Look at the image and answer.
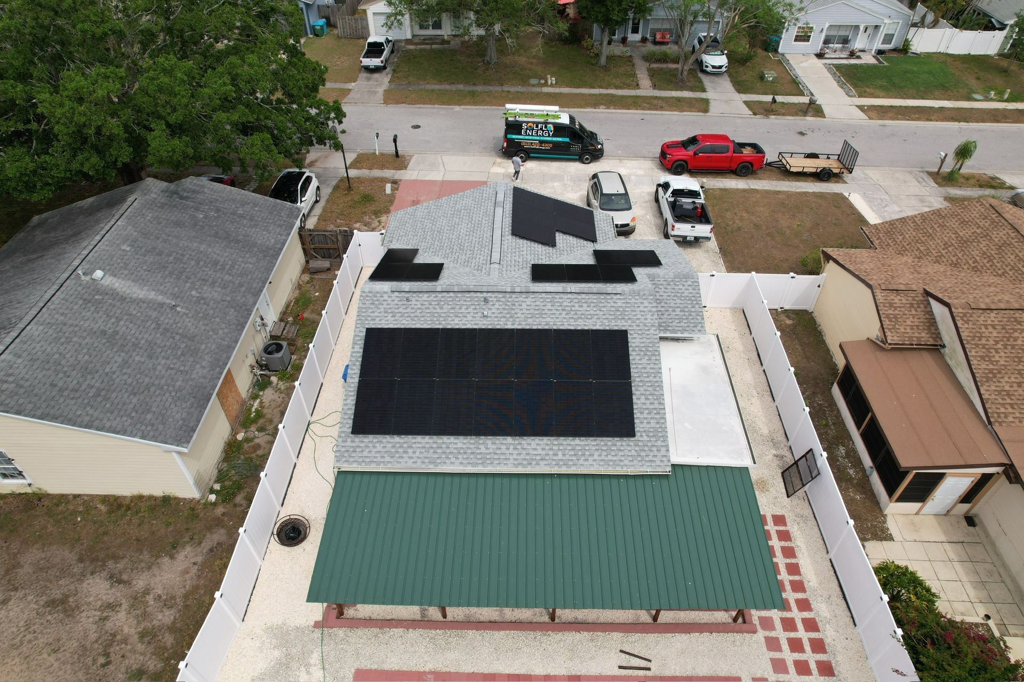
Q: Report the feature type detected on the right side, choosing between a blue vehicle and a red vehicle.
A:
red vehicle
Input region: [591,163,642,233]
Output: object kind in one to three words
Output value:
car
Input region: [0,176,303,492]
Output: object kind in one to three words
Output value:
house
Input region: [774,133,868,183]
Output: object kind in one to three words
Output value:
trailer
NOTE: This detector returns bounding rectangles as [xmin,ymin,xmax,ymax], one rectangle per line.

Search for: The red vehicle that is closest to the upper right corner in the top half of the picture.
[658,128,776,176]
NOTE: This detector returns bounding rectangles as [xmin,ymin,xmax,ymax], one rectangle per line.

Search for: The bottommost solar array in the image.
[352,327,634,437]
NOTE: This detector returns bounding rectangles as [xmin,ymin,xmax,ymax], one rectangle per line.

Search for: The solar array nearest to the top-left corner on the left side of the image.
[368,249,444,280]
